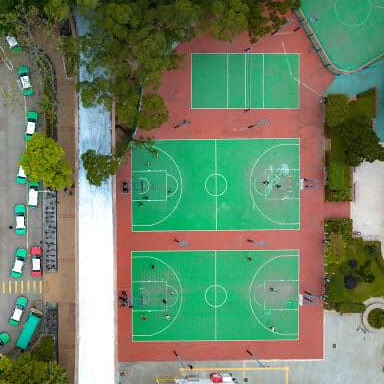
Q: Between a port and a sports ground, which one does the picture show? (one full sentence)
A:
What you see here is a sports ground.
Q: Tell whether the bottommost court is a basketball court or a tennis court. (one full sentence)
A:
It turns out the bottommost court is a basketball court.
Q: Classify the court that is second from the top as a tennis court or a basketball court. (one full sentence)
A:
The court that is second from the top can be classified as a basketball court.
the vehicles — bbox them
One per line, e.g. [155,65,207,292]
[9,296,27,327]
[25,111,38,141]
[16,155,28,184]
[11,248,26,278]
[30,246,42,275]
[27,180,40,209]
[0,331,10,347]
[0,27,23,55]
[14,204,26,234]
[15,305,45,350]
[18,66,33,96]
